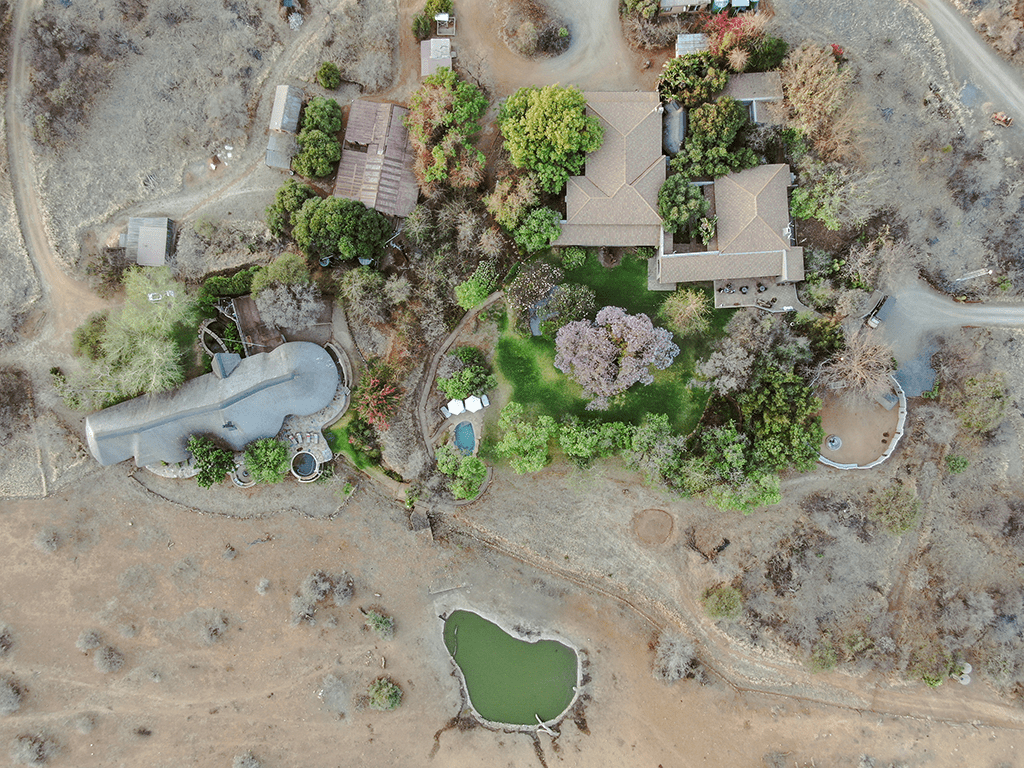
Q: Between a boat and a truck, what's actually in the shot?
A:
truck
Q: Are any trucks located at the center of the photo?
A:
No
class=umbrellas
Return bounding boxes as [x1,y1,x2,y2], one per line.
[465,395,482,412]
[448,397,464,416]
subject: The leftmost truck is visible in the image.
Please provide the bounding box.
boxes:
[865,294,897,330]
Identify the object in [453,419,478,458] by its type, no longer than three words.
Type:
swimming pool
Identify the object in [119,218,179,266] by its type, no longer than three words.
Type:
shed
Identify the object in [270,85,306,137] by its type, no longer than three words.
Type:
shed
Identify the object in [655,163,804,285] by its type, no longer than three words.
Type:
house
